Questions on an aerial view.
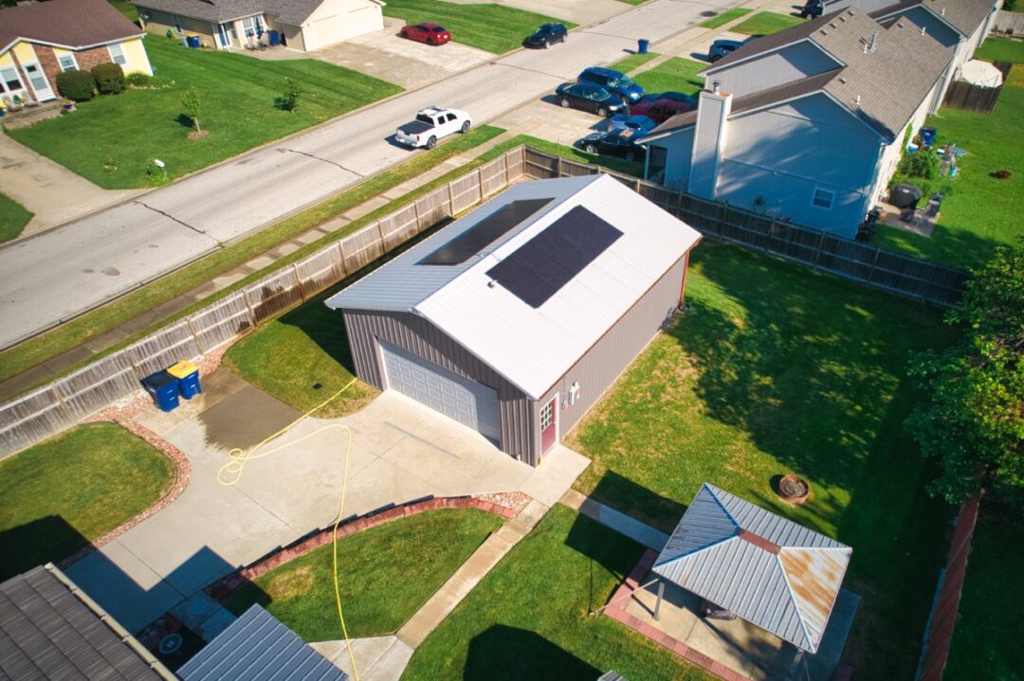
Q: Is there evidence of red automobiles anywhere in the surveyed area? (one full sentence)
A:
Yes, looking at the shot, I can spot a red automobile.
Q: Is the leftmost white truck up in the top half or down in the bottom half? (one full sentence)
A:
The top half of the photo is where the leftmost white truck is.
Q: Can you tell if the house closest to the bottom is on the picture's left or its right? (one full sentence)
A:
You can find the house closest to the bottom on the left side of the picture.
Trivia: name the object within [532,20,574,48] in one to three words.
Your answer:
car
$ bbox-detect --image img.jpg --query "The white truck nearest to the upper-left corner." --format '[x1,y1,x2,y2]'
[388,105,468,151]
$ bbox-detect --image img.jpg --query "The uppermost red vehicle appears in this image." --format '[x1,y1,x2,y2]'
[403,19,449,42]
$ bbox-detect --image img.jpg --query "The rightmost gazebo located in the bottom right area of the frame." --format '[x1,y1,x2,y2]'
[652,483,855,681]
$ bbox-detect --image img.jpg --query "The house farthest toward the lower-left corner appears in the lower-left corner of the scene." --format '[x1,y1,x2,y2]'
[0,558,178,681]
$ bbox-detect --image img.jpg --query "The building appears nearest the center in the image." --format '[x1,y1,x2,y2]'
[322,172,706,467]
